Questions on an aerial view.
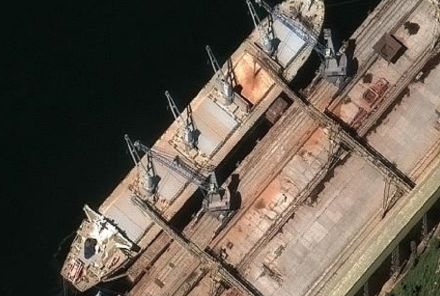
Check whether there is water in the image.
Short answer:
Yes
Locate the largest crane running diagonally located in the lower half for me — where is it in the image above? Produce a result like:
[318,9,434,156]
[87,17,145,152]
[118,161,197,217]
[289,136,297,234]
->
[135,141,235,239]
